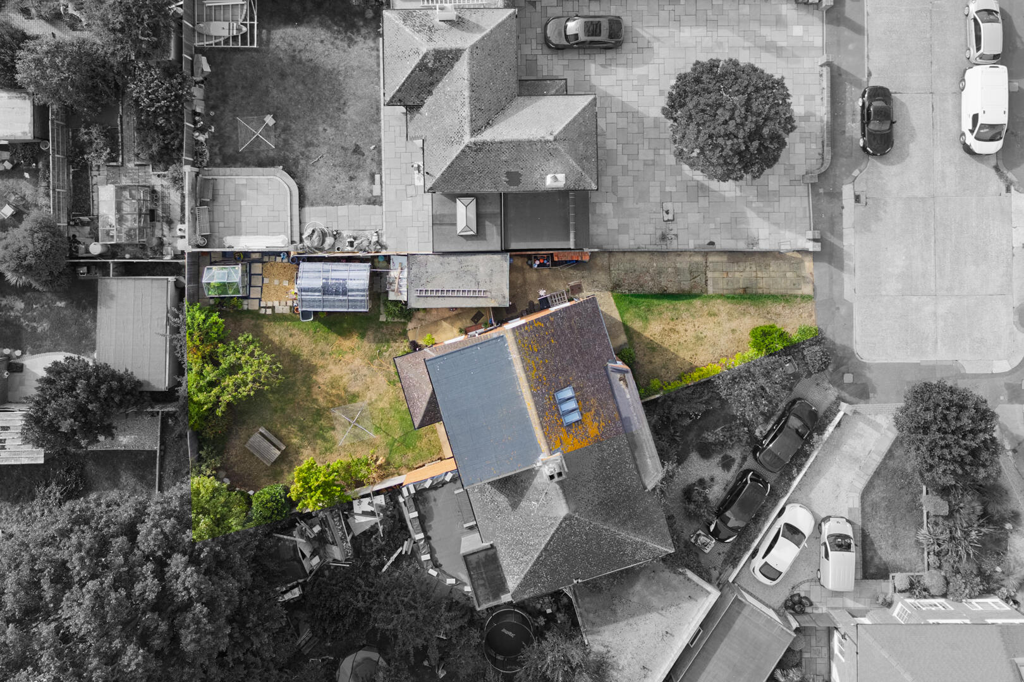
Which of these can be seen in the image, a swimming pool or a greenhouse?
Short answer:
greenhouse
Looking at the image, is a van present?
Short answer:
Yes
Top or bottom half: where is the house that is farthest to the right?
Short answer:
bottom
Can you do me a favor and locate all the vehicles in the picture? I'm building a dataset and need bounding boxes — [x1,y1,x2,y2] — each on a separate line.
[753,400,816,474]
[817,516,860,596]
[853,84,895,159]
[955,60,1009,156]
[543,10,625,54]
[707,468,771,539]
[749,505,810,582]
[954,0,1002,68]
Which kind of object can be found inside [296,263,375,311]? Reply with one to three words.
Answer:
greenhouse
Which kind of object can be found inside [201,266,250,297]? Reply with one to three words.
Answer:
greenhouse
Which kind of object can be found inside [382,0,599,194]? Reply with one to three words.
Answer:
house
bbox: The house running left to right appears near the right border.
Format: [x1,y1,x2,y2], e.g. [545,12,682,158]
[822,592,1024,682]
